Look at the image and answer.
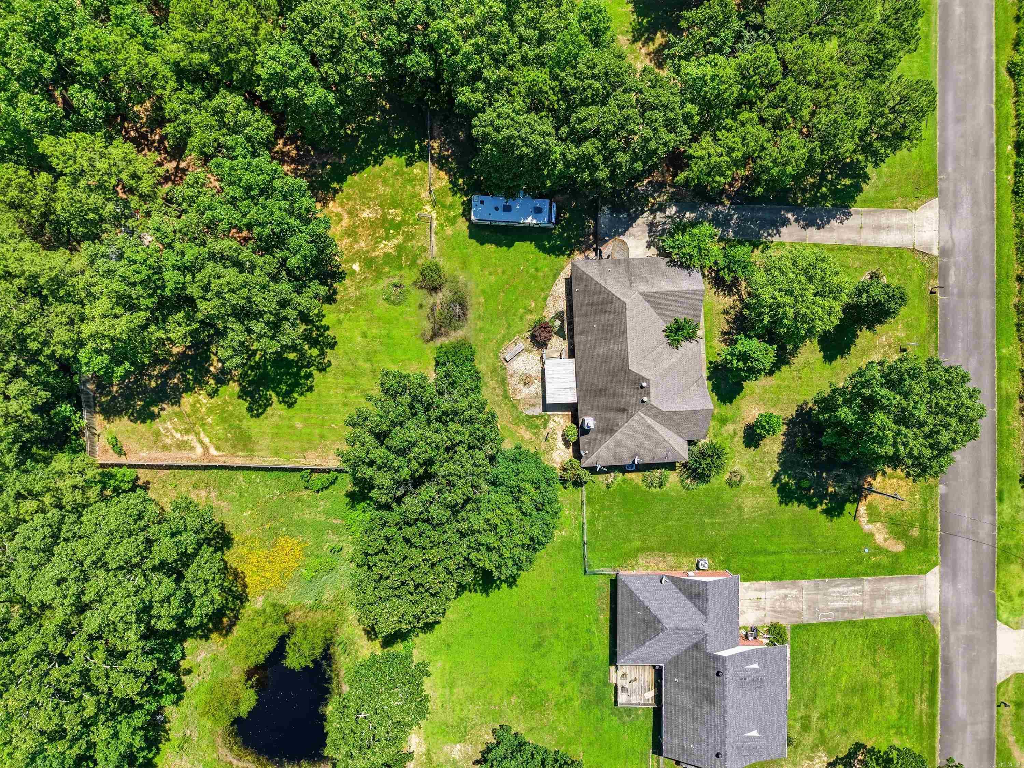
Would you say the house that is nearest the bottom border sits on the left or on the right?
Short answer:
right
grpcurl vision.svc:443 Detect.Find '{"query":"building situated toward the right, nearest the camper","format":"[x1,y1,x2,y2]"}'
[571,260,714,470]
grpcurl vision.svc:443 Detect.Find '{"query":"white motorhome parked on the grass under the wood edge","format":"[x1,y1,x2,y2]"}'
[471,194,557,229]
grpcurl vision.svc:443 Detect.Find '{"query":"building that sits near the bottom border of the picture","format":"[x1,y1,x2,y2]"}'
[616,571,789,768]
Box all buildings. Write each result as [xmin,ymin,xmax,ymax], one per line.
[616,571,789,768]
[571,260,714,470]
